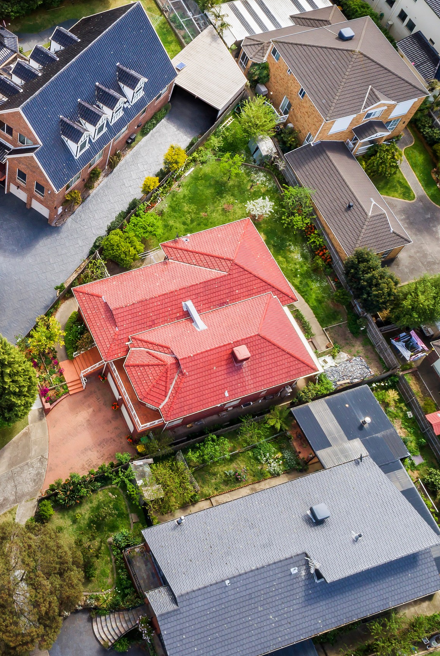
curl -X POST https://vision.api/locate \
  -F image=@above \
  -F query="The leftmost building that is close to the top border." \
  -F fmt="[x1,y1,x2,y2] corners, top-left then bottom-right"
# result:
[0,3,180,213]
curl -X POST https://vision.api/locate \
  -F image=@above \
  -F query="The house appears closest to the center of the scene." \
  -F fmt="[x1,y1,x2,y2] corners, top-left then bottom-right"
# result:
[59,216,323,438]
